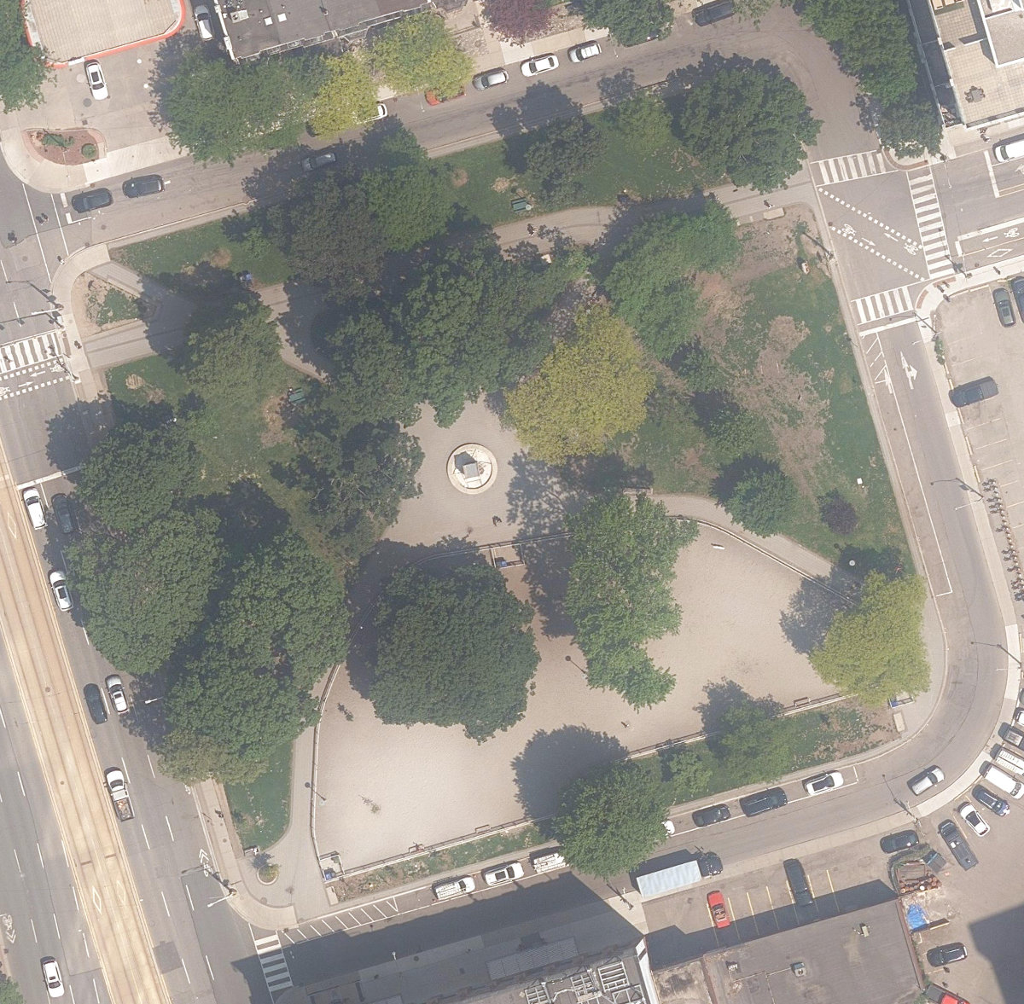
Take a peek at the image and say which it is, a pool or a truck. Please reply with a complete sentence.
The one in the frame is a truck.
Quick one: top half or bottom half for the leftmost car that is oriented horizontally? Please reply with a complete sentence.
The top half of the photo is where the leftmost car that is oriented horizontally is.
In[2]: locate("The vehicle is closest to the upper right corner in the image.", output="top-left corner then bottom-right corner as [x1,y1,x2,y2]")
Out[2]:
[993,138,1024,161]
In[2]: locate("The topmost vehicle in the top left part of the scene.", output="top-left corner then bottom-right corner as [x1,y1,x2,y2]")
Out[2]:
[193,4,215,41]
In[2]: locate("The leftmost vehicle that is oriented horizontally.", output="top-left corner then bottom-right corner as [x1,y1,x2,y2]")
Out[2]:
[71,188,114,212]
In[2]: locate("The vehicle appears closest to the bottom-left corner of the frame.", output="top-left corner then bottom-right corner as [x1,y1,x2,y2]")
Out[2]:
[40,956,64,998]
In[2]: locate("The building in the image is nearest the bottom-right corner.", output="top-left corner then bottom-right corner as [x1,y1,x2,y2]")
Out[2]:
[702,895,928,1004]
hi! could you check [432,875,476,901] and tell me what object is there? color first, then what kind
white vehicle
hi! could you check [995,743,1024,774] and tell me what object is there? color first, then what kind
white van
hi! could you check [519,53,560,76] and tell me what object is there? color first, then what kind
white car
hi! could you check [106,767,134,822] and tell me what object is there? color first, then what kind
white truck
